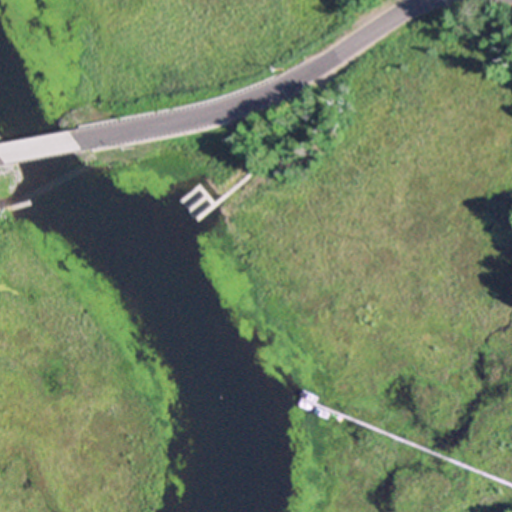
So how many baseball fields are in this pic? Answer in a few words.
zero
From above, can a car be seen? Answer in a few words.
No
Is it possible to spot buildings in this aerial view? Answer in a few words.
No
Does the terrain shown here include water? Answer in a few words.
Yes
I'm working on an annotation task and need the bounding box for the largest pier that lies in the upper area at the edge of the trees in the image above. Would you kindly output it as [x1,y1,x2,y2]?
[181,172,252,219]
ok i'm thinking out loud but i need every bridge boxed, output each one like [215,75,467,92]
[0,127,80,168]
